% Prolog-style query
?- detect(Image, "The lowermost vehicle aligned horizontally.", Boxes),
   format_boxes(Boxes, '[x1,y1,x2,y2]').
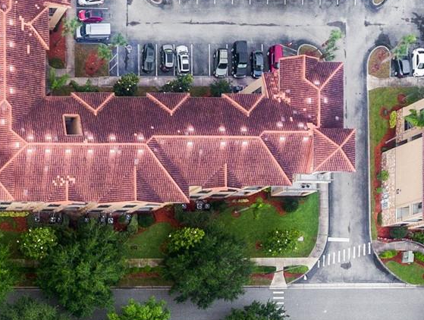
[76,21,113,39]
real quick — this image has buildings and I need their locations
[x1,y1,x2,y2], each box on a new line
[0,0,355,209]
[384,114,424,224]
